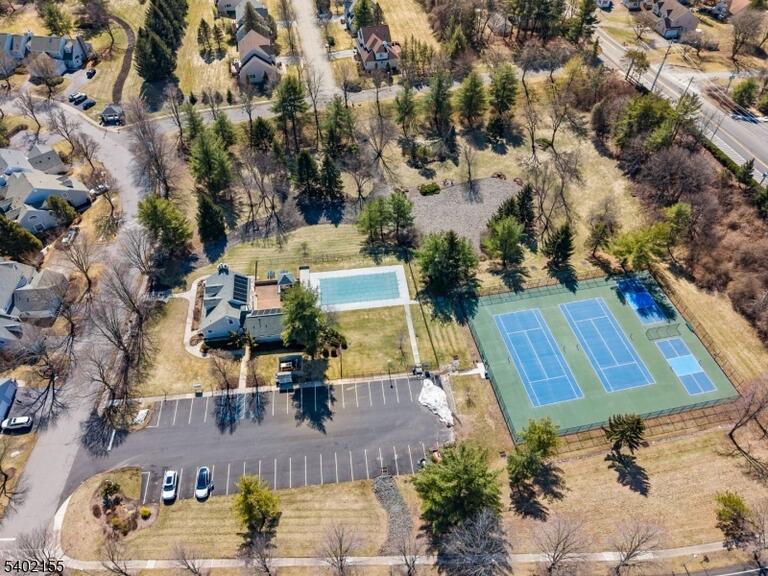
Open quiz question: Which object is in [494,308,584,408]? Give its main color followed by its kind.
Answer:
blue tennis court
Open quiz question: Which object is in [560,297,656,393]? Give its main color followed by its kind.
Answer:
blue tennis court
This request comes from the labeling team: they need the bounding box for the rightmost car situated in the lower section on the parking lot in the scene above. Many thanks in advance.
[195,470,209,497]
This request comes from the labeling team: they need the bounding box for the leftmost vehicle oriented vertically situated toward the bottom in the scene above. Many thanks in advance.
[161,472,176,500]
